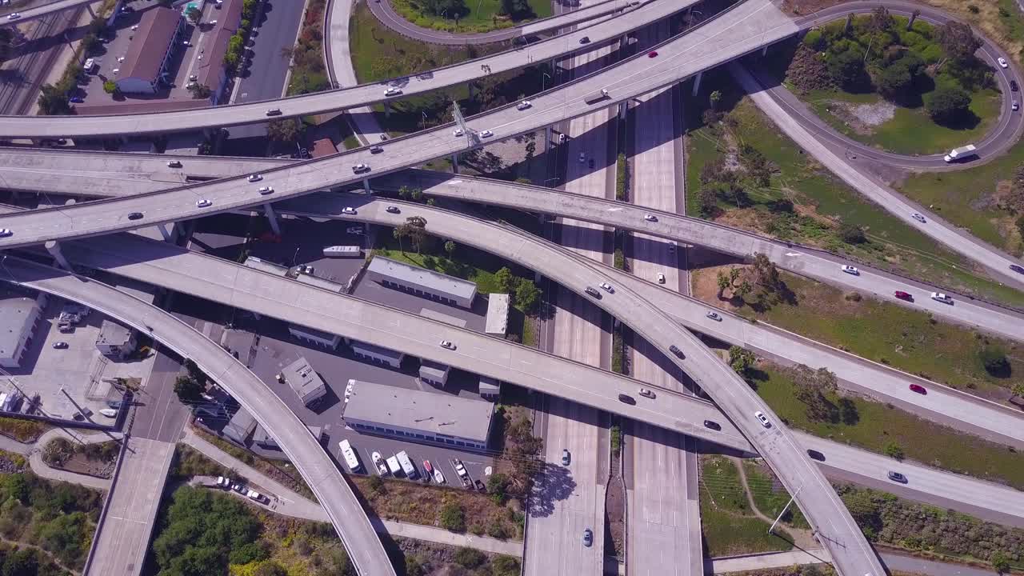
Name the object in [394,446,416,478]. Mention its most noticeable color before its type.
white camper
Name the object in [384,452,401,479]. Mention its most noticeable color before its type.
white camper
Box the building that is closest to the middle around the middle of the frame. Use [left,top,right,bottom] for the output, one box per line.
[486,293,508,338]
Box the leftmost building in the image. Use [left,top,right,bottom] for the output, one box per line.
[0,296,43,365]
